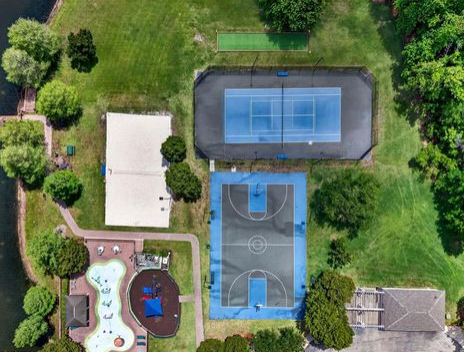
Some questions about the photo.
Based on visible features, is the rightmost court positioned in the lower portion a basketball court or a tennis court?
basketball court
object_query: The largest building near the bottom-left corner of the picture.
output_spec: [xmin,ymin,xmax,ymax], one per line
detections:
[66,292,91,326]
